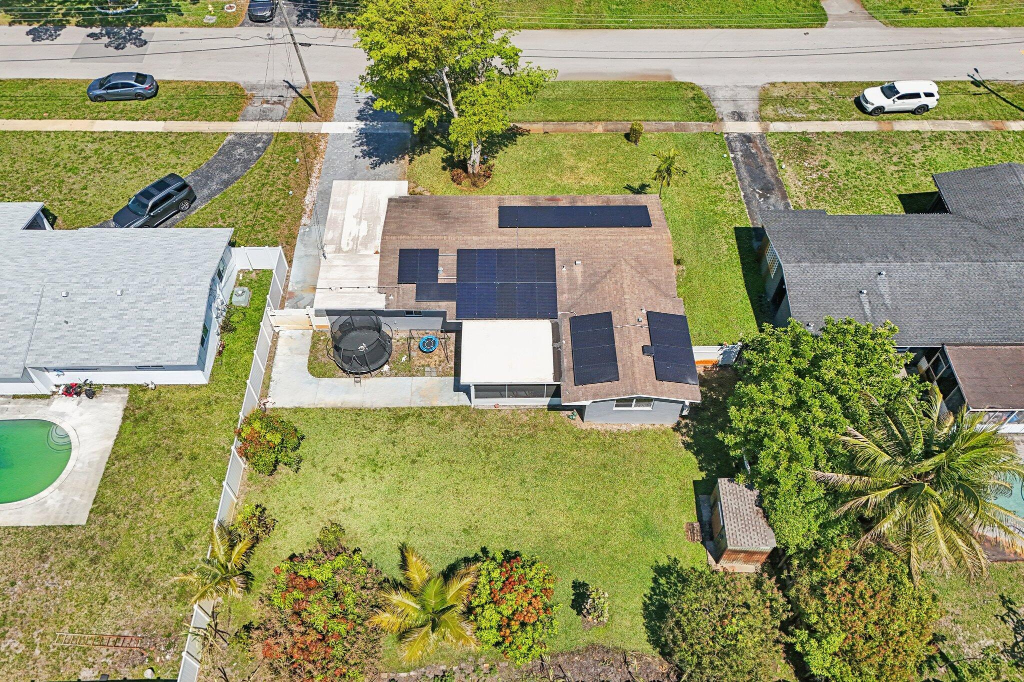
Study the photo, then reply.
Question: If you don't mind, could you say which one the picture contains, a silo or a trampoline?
trampoline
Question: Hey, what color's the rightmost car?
white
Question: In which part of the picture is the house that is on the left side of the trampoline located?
left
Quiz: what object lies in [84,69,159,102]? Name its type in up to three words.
car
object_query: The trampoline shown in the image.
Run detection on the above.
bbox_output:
[323,312,399,385]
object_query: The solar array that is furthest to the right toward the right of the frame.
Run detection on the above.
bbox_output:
[646,312,699,385]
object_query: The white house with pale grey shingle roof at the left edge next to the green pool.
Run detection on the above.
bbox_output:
[0,201,246,393]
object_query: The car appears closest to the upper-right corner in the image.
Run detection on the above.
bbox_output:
[855,77,941,116]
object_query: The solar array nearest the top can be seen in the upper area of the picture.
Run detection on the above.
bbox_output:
[497,206,653,227]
